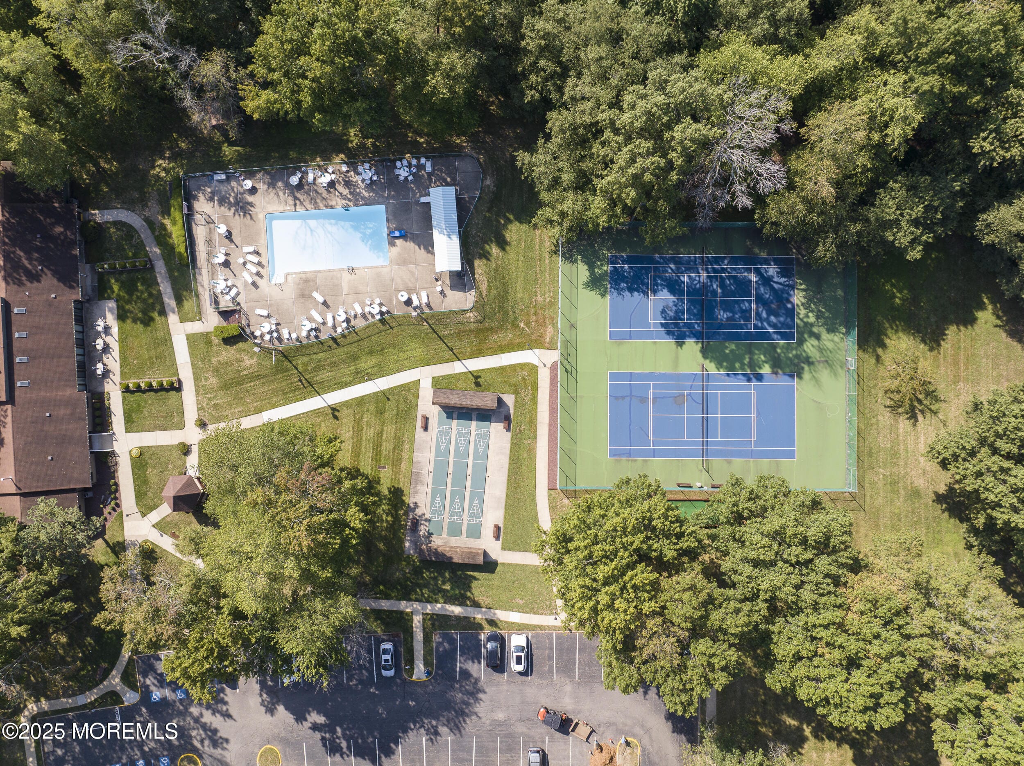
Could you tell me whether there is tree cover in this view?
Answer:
Yes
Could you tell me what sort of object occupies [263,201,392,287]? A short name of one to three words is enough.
swimming pool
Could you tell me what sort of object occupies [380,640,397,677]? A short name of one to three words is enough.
car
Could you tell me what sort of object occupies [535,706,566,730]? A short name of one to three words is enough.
vehicle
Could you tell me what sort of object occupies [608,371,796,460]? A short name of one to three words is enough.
tennis court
